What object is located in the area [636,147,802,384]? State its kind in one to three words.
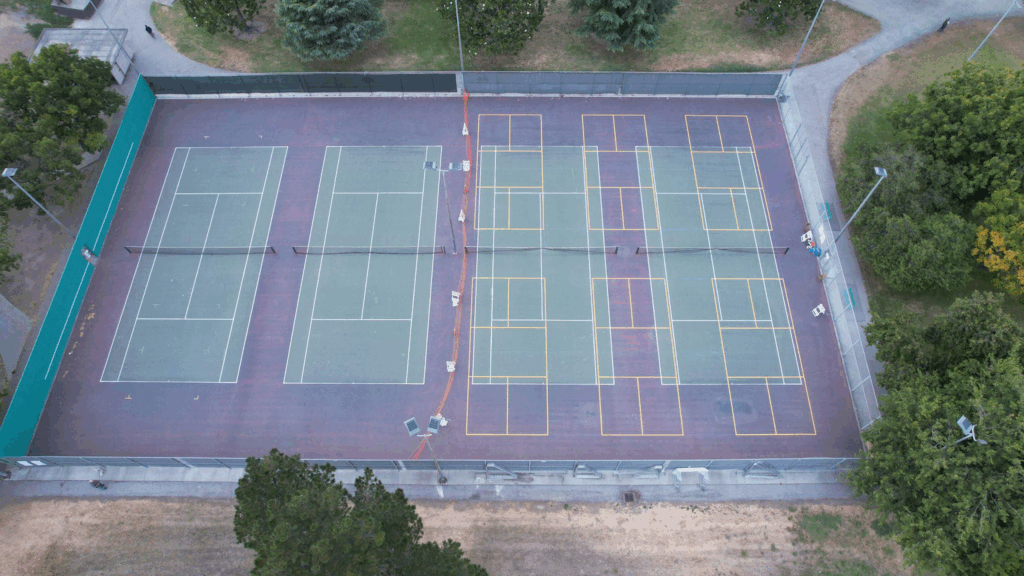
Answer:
tennis court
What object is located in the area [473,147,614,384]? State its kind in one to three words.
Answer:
tennis court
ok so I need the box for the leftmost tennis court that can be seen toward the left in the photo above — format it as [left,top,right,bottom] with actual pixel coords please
[99,147,289,397]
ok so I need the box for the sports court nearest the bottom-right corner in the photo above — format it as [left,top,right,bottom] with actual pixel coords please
[710,278,817,436]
